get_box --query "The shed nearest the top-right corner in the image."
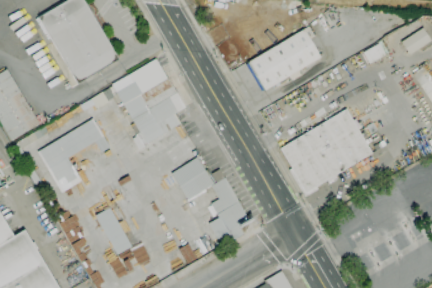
[401,28,432,54]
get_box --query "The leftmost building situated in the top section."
[0,70,40,142]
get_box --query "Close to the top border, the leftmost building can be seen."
[38,0,117,81]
